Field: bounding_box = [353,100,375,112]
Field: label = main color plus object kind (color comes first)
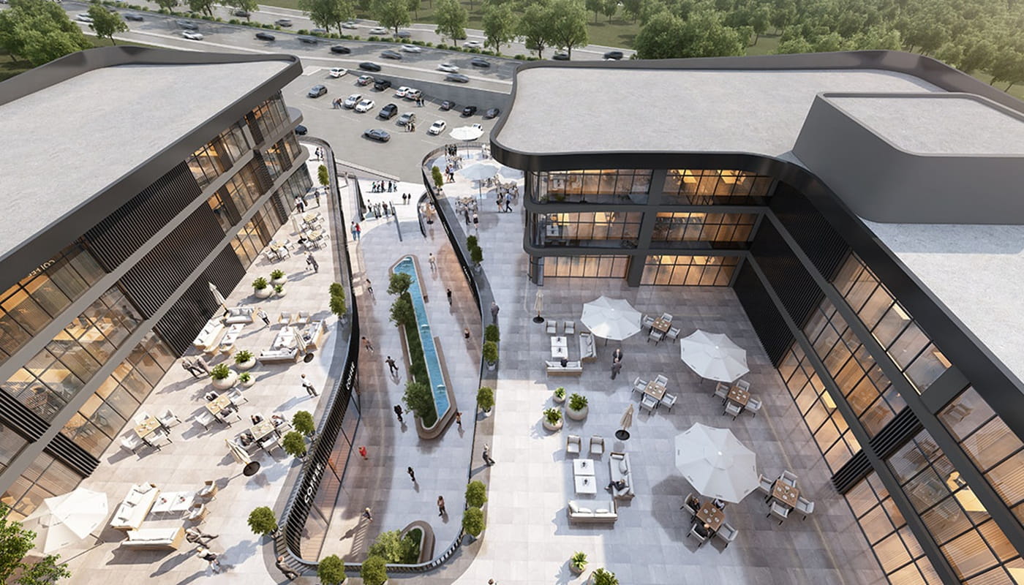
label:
white vehicle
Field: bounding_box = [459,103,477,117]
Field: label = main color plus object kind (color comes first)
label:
black car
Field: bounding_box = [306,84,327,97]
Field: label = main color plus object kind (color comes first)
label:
gray vehicle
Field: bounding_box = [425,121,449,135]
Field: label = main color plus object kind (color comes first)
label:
white car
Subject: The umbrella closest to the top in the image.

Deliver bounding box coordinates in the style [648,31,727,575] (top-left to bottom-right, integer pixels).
[450,130,483,144]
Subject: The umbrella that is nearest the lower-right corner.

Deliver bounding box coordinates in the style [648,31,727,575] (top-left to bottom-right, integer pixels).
[670,423,760,507]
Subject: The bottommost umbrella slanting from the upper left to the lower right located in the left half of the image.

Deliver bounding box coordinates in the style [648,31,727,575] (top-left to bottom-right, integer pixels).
[227,438,261,478]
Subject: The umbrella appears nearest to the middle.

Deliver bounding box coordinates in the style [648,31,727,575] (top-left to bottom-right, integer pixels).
[532,289,545,325]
